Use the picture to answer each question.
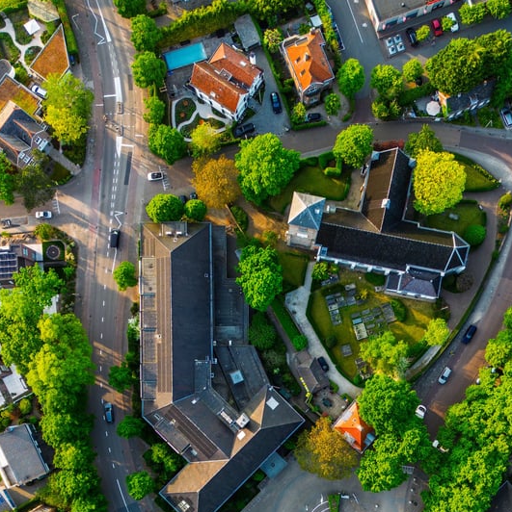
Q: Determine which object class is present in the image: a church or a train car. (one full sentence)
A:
Of the two, only a church appears.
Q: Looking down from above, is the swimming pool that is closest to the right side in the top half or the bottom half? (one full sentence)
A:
It is in the top half that the swimming pool that is closest to the right side appears.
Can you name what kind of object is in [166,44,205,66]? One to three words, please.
swimming pool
